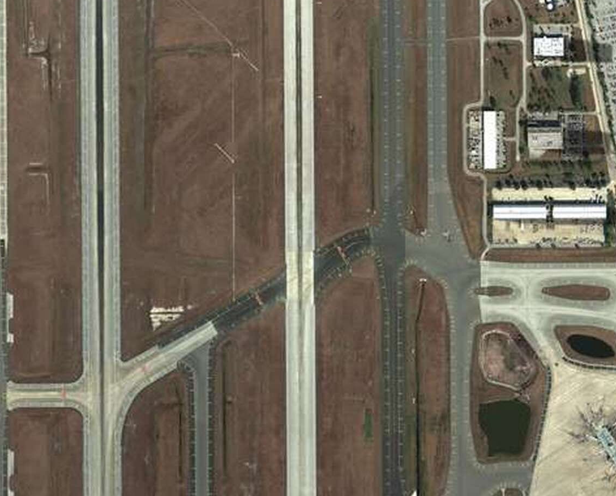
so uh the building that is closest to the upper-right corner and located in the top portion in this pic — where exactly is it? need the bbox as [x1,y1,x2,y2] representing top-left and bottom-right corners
[534,36,564,56]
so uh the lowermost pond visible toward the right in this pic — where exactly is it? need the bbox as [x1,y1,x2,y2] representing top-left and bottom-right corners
[478,399,530,456]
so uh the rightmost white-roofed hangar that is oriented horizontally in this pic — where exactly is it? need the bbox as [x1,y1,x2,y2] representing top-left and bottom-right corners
[553,205,607,221]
